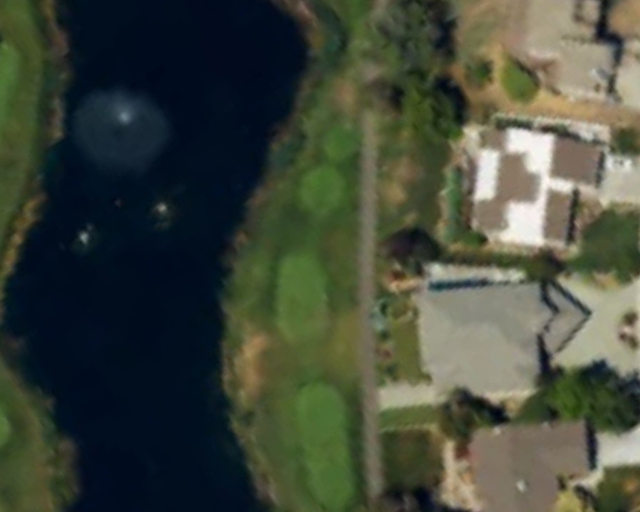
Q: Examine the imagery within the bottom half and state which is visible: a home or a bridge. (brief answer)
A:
home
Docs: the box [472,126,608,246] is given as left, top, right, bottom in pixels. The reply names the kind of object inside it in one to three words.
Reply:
house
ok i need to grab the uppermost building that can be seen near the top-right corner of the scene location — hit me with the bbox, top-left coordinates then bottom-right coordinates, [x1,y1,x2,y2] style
[517,0,620,95]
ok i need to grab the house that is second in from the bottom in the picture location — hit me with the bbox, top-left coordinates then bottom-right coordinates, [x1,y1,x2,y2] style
[420,282,591,394]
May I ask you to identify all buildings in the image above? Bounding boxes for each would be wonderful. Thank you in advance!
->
[517,0,620,95]
[472,425,593,512]
[472,126,608,246]
[420,282,591,394]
